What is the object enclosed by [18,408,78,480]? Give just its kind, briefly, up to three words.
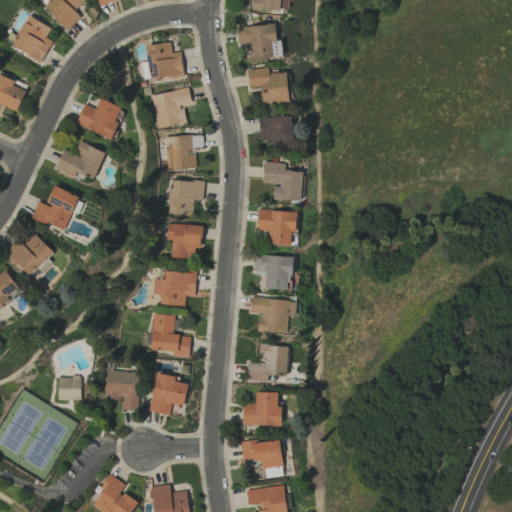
tennis court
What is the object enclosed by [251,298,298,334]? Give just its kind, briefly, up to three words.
house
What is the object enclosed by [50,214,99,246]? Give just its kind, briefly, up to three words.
swimming pool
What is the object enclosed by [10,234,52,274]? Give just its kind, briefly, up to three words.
house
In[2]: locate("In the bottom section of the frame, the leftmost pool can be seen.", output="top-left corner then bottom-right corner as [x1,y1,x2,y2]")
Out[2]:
[0,296,30,321]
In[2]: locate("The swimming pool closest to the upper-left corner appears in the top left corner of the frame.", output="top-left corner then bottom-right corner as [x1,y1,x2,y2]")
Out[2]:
[12,9,31,34]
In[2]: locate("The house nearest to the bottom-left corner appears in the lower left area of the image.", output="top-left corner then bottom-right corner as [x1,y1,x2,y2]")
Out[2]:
[92,476,138,512]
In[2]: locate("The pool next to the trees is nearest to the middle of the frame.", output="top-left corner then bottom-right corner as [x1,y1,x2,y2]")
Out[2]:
[127,268,161,308]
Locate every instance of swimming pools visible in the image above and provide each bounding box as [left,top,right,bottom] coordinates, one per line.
[135,41,150,62]
[52,340,95,378]
[37,265,63,290]
[155,361,183,374]
[12,9,31,34]
[0,296,30,321]
[127,268,161,308]
[50,214,99,246]
[96,156,118,190]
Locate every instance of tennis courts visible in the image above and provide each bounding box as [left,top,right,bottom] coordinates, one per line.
[18,408,78,480]
[0,390,52,464]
